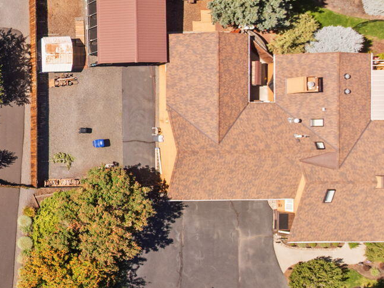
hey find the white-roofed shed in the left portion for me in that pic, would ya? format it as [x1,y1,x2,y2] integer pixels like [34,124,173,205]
[38,35,72,72]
